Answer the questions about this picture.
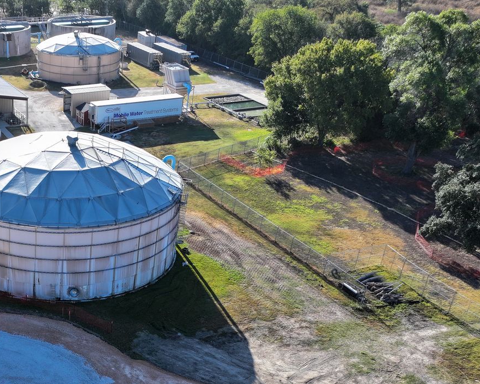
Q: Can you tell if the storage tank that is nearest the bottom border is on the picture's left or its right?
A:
left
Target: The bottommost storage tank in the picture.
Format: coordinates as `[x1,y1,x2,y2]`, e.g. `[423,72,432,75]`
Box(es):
[0,130,196,304]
